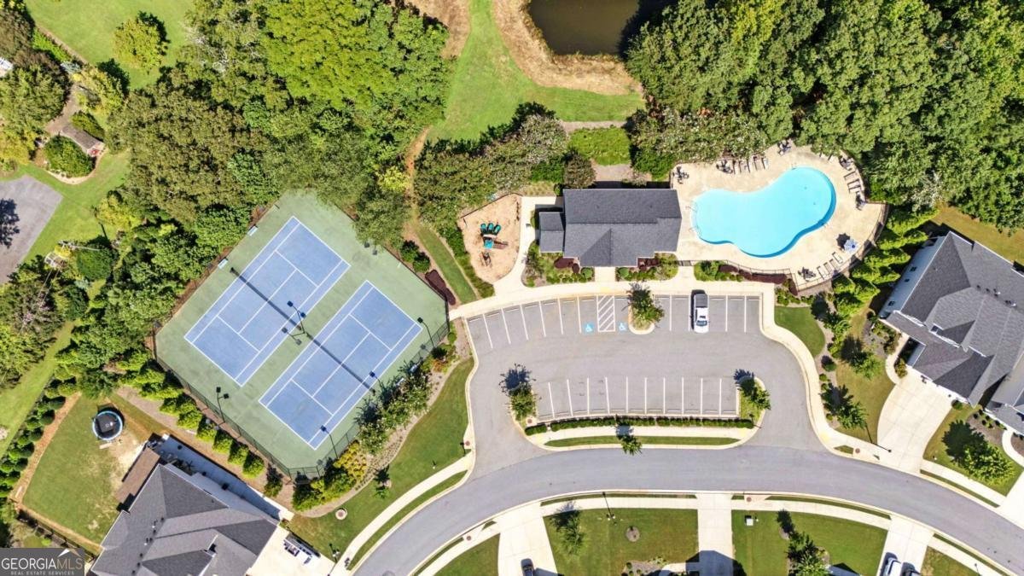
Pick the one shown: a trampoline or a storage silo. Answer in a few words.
trampoline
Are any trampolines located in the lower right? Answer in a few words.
No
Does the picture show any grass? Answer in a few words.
Yes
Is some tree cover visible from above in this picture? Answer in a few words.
Yes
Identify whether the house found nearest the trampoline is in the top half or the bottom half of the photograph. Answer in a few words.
bottom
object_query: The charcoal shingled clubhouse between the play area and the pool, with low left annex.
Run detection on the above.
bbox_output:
[539,188,682,267]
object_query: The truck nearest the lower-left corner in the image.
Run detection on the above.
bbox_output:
[281,537,323,568]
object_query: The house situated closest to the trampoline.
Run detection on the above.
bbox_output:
[90,460,279,576]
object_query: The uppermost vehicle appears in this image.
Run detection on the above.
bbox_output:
[692,292,709,332]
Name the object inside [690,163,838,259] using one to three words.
swimming pool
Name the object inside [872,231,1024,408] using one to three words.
house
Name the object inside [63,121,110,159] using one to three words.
shed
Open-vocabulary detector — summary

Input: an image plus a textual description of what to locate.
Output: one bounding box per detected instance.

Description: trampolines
[88,411,124,440]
